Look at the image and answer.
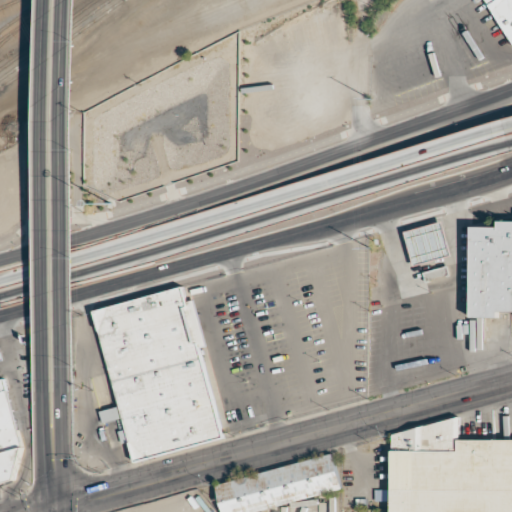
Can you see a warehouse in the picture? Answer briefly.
Yes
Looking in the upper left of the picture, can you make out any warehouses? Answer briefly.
No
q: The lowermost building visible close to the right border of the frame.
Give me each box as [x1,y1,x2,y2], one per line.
[388,439,512,512]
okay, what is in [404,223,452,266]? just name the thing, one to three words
shed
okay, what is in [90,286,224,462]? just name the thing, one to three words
warehouse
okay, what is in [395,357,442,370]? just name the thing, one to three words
vehicle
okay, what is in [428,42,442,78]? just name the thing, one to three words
vehicle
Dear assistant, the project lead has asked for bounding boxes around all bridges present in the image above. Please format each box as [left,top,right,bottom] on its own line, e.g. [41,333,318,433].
[28,0,73,468]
